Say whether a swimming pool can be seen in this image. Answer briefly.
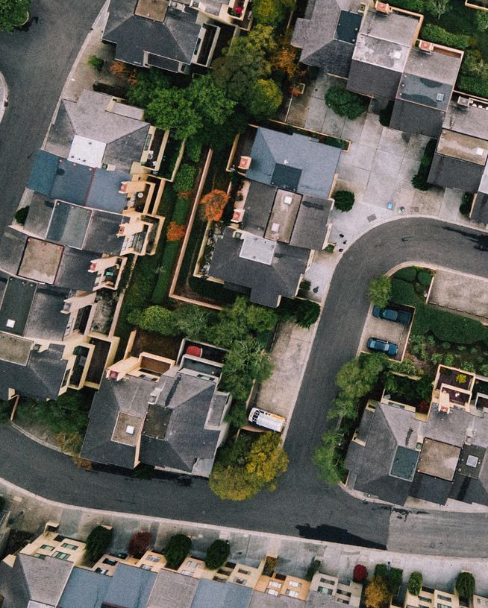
No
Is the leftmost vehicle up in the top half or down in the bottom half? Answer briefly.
bottom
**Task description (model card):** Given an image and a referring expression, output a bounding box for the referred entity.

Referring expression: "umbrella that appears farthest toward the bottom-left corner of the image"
[188,344,201,356]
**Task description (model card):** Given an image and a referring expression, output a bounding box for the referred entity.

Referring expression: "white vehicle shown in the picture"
[247,406,288,434]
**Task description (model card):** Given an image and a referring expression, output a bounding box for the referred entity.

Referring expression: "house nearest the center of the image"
[208,227,311,306]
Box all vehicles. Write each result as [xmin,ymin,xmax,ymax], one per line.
[374,304,412,325]
[247,406,288,434]
[367,337,398,355]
